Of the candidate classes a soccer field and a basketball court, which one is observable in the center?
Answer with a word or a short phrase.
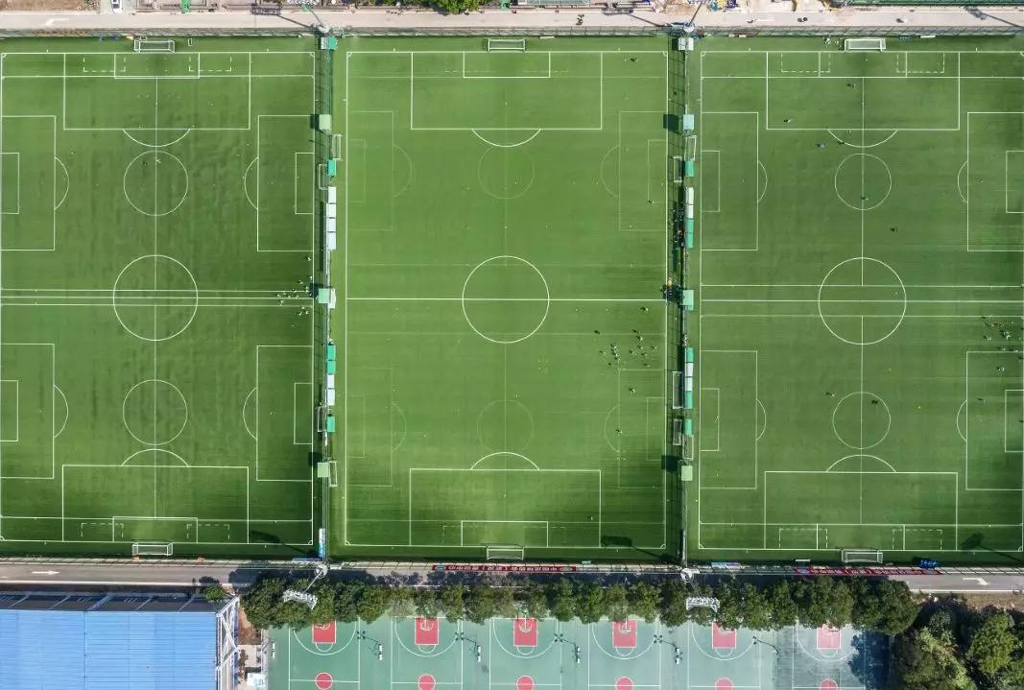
soccer field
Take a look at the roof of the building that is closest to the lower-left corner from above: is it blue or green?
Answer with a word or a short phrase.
blue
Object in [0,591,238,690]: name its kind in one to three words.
building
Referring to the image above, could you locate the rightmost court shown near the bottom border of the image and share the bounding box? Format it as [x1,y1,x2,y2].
[776,617,892,690]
